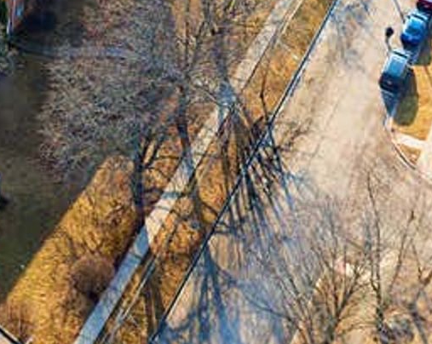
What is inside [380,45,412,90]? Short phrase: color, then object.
blue car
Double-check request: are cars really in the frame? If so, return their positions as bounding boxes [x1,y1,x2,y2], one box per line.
[380,45,412,90]
[412,0,432,12]
[401,9,430,44]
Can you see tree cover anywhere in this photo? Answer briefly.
Yes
